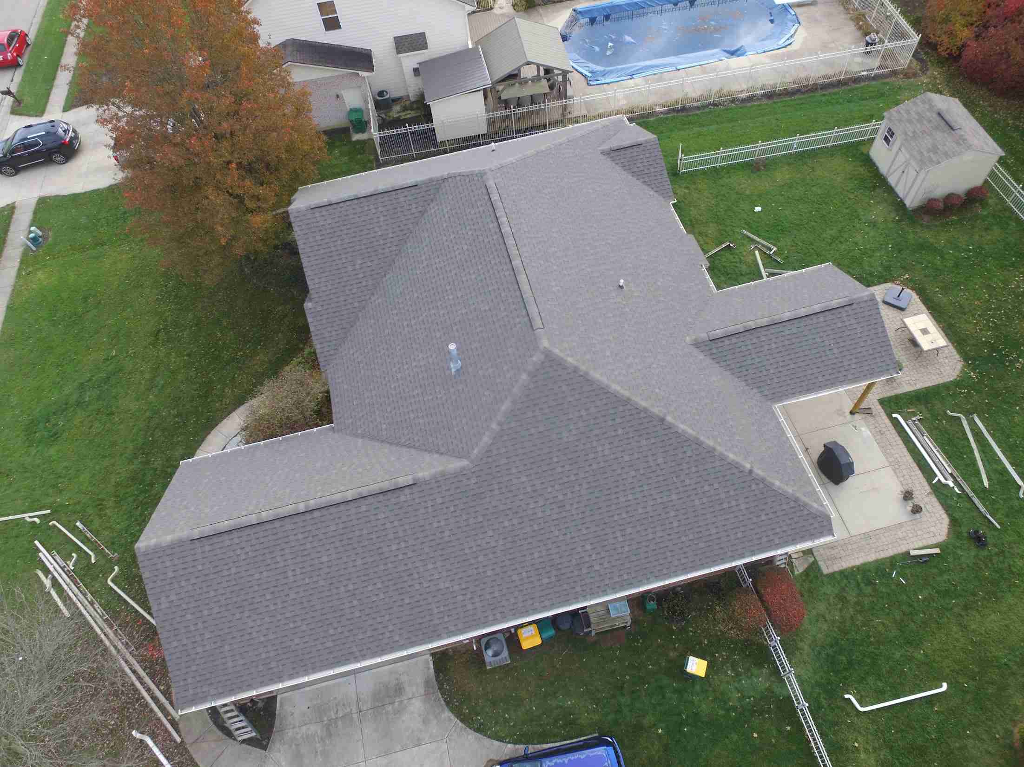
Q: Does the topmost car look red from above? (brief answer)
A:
Yes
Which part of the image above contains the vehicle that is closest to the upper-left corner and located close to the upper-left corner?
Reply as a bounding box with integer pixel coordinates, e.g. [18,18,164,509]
[0,27,28,72]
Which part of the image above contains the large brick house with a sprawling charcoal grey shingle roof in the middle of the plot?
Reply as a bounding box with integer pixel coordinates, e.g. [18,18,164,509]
[135,114,901,717]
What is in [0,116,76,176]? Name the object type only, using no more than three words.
car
